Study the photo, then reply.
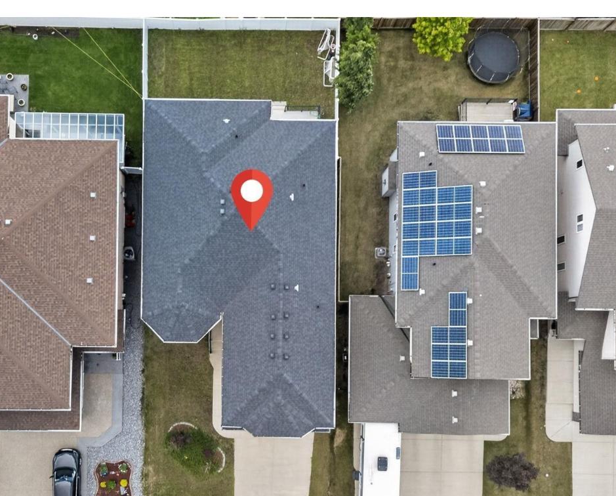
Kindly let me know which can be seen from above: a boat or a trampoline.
trampoline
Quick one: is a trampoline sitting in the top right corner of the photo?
Yes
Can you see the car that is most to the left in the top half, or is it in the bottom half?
bottom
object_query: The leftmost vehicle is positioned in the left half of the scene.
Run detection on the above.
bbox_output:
[48,447,81,496]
